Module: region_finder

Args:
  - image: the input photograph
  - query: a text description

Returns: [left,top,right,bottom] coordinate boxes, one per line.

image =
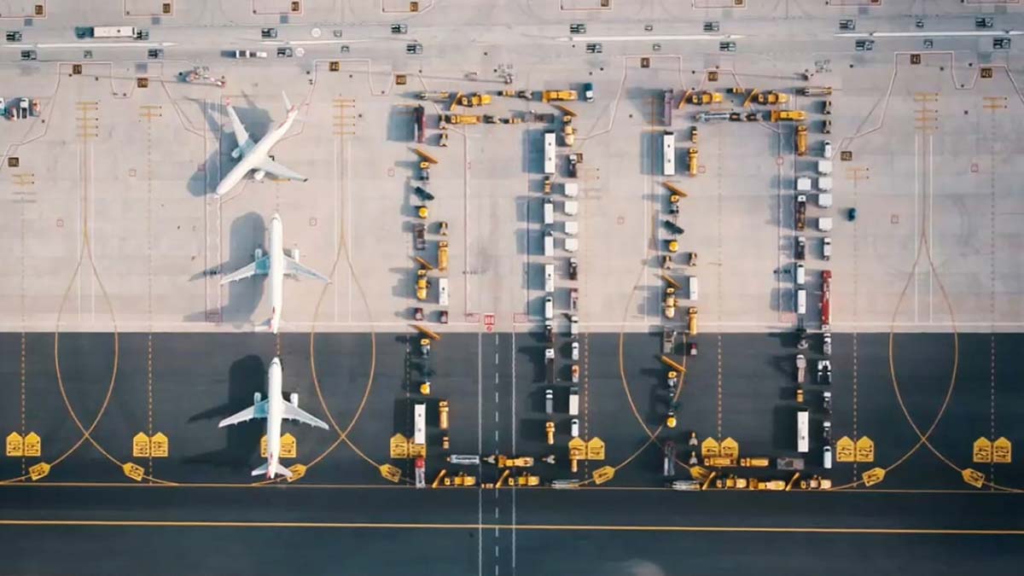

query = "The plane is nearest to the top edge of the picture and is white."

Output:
[216,96,306,198]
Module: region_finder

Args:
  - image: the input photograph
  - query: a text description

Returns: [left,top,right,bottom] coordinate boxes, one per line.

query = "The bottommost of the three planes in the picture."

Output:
[218,357,328,480]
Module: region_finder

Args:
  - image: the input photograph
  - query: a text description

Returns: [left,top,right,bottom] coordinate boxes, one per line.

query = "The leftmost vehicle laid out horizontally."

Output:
[94,27,141,39]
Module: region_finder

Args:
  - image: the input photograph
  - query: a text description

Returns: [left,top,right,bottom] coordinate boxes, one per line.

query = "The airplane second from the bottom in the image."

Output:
[218,213,329,336]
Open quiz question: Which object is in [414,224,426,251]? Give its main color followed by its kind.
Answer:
gray vehicle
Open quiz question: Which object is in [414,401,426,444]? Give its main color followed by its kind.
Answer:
white vehicle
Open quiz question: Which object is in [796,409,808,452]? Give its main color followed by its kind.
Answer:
white vehicle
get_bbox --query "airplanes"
[218,357,328,480]
[216,96,306,198]
[218,213,329,336]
